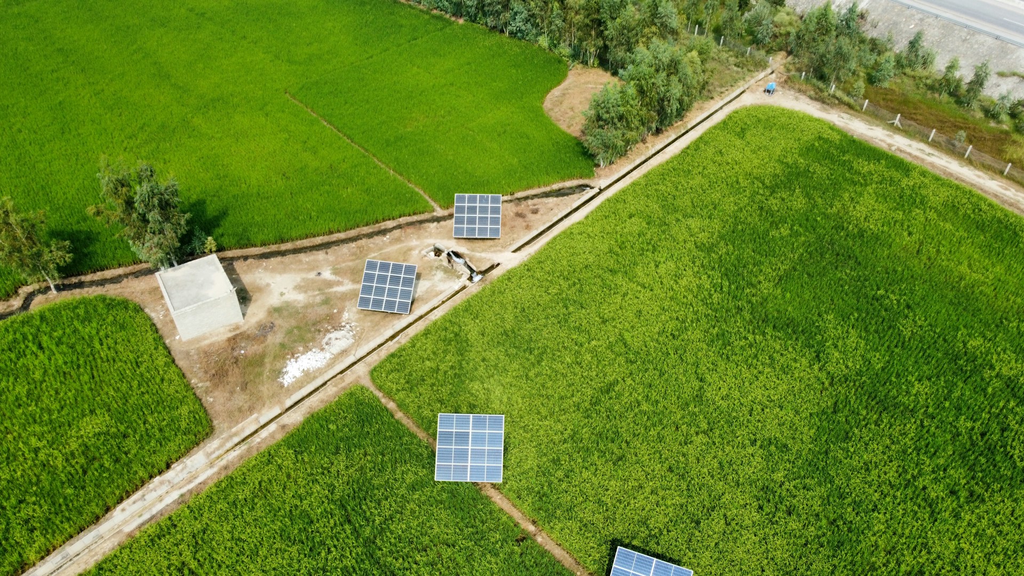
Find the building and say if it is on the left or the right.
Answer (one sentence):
The building appears in the left half of the scene.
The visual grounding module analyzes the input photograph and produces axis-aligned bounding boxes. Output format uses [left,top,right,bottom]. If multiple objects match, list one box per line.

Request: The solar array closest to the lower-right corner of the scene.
[610,546,693,576]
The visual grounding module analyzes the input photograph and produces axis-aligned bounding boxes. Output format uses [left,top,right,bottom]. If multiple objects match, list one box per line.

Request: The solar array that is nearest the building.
[357,259,417,314]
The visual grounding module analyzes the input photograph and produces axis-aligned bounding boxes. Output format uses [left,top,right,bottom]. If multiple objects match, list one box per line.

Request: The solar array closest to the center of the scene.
[453,194,501,238]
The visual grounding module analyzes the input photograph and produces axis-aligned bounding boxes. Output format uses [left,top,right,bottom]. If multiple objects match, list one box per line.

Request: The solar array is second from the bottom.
[435,413,504,482]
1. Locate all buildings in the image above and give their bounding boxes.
[155,255,243,342]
